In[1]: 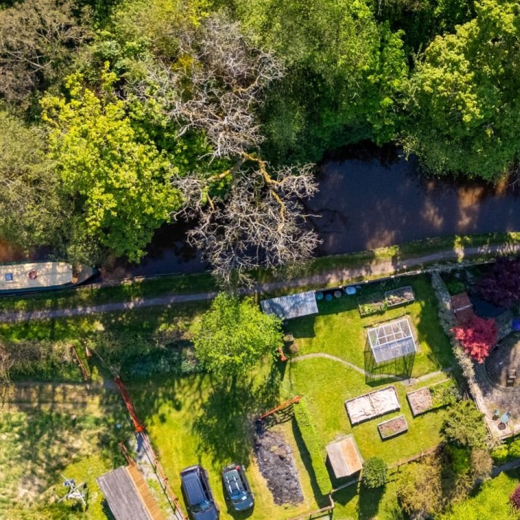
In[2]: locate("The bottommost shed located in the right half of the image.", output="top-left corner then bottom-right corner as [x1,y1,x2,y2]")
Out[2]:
[326,433,362,478]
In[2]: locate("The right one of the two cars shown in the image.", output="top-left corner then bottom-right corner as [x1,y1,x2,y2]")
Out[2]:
[222,459,255,514]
